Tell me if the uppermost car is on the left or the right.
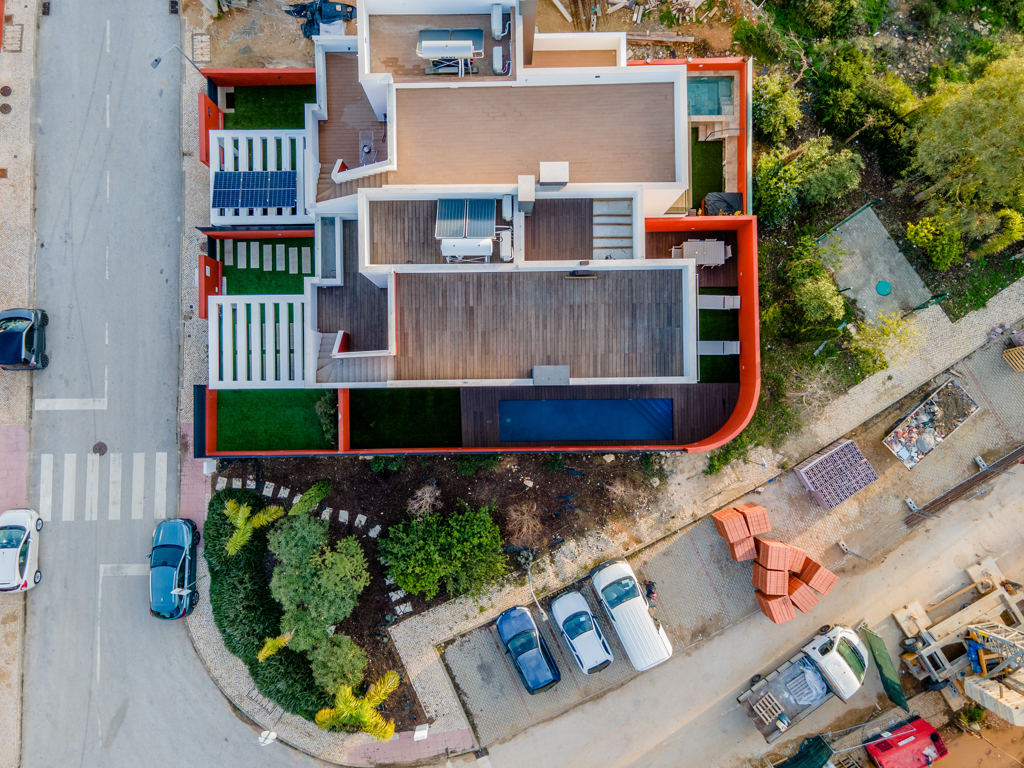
left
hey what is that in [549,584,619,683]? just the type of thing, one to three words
car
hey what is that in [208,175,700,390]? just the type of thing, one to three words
house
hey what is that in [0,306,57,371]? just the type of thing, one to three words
car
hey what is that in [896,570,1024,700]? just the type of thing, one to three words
crane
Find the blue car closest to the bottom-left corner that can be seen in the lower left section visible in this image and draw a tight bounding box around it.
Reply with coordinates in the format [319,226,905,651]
[136,515,197,621]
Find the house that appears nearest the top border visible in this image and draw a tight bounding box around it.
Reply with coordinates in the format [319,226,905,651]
[209,0,688,227]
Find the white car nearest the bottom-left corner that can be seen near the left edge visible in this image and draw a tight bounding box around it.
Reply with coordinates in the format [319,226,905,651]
[0,505,47,595]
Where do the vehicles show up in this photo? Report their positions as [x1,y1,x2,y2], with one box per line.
[496,600,567,701]
[549,584,619,683]
[0,306,57,371]
[735,614,872,741]
[136,515,197,621]
[0,505,47,595]
[587,548,685,685]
